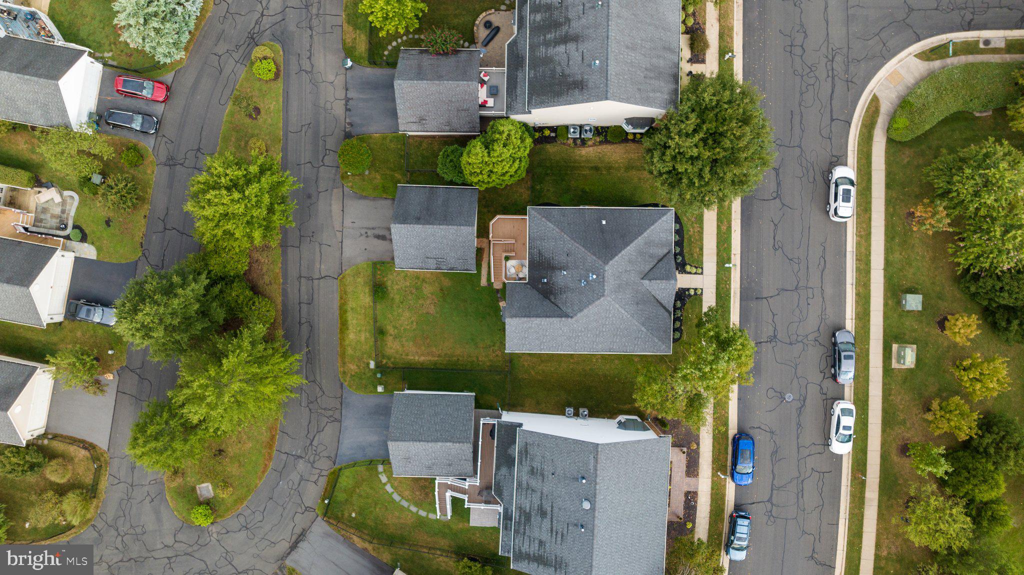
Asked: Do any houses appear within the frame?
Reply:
Yes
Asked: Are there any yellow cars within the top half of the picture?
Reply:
No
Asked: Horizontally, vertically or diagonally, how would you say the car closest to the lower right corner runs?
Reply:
vertically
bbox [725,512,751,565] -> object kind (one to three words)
car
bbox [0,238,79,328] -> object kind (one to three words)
building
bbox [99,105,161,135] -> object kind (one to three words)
car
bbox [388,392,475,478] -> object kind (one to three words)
building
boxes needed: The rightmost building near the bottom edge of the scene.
[492,395,672,575]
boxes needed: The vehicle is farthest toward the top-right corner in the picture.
[827,165,858,221]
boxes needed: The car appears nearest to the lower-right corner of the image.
[829,400,857,455]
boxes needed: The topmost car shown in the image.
[111,74,172,104]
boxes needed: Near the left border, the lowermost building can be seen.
[0,356,59,447]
